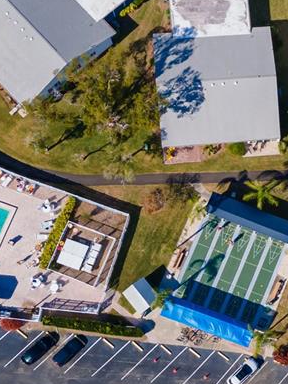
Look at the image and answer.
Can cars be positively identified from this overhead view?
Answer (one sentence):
Yes, this view includes a car.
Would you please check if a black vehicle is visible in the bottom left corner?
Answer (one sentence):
Yes, a black vehicle is visible in the bottom left corner.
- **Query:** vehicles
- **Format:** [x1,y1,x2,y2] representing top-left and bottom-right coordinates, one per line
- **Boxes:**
[53,335,85,367]
[229,358,260,384]
[24,332,57,363]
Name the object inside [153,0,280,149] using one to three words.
house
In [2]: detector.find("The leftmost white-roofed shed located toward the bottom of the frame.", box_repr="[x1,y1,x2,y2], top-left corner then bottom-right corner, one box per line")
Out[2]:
[123,277,155,314]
